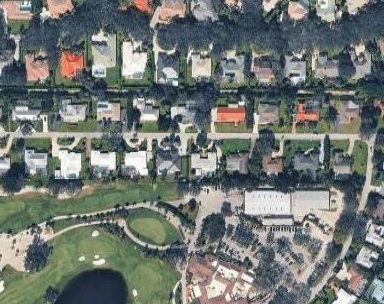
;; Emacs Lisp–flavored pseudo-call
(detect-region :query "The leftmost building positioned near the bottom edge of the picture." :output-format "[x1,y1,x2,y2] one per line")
[185,251,263,304]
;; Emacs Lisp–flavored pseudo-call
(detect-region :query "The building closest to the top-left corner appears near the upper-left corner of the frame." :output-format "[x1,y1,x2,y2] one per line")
[0,0,35,18]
